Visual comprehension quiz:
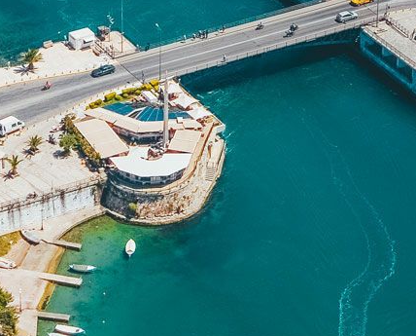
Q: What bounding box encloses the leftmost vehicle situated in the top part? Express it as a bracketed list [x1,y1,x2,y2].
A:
[0,116,24,135]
